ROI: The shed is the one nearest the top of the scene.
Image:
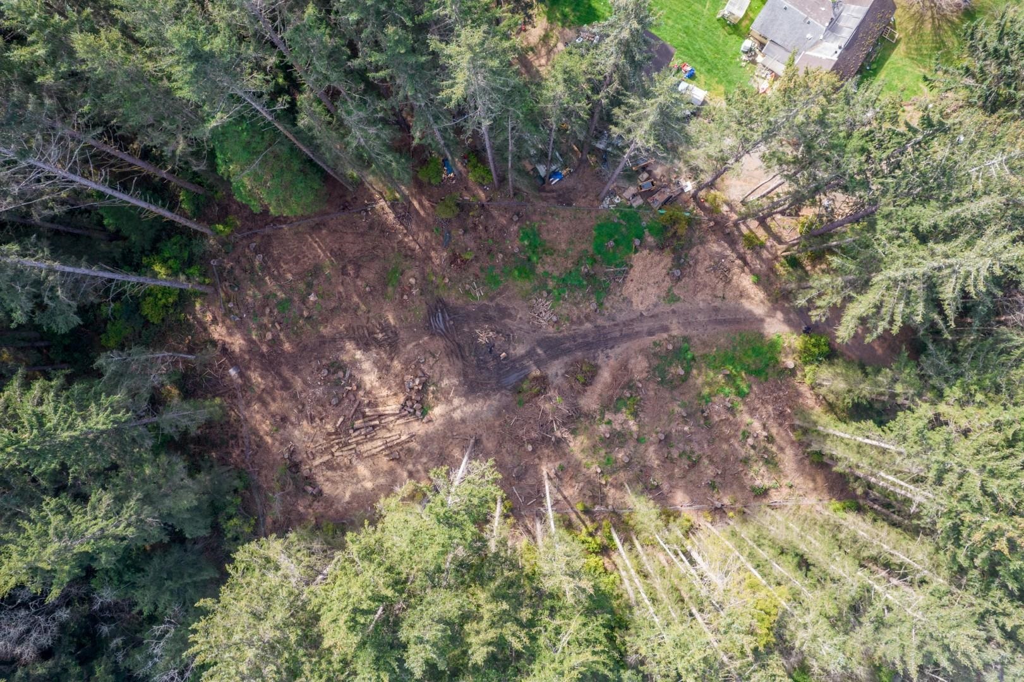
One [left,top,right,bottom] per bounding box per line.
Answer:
[724,0,760,32]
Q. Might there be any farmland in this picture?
No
